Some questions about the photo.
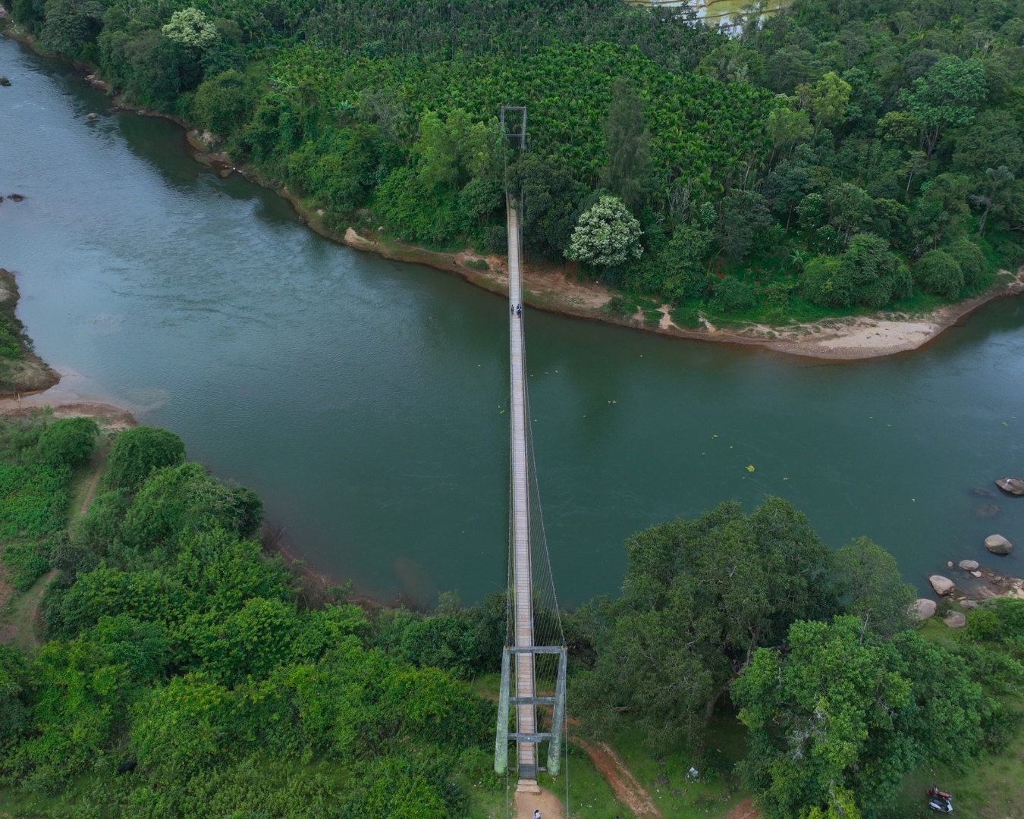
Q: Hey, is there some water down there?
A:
Yes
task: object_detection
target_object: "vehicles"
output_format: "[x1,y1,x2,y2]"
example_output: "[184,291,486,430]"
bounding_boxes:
[928,784,958,802]
[930,800,957,814]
